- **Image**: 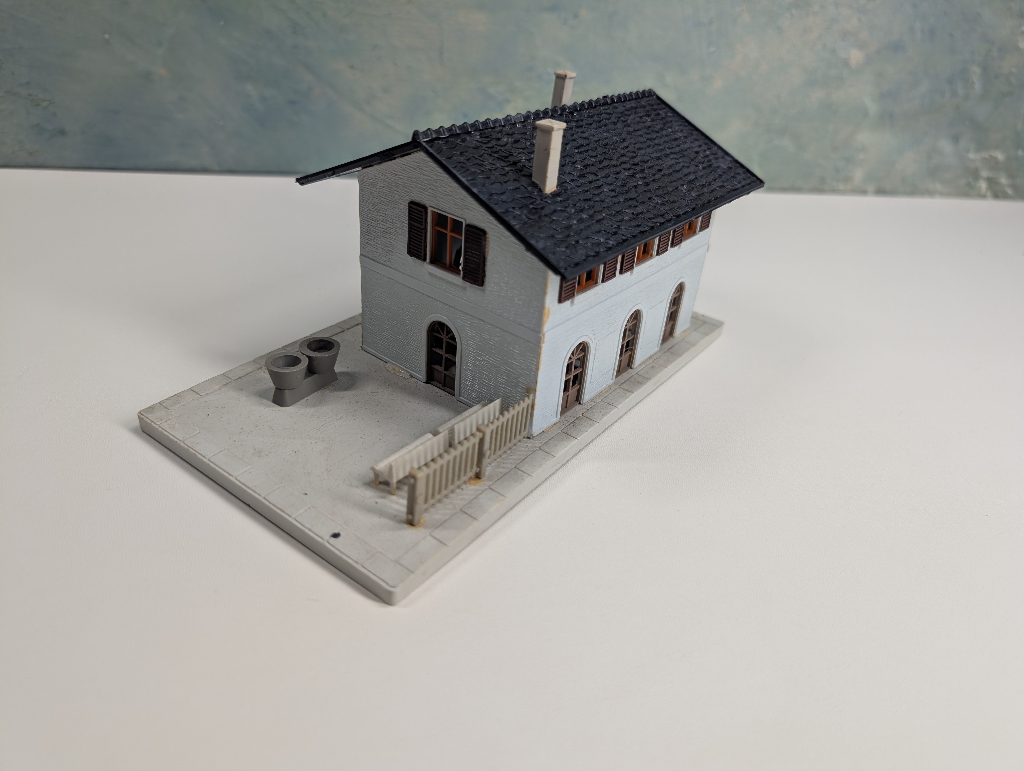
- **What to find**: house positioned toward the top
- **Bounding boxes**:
[298,71,766,438]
